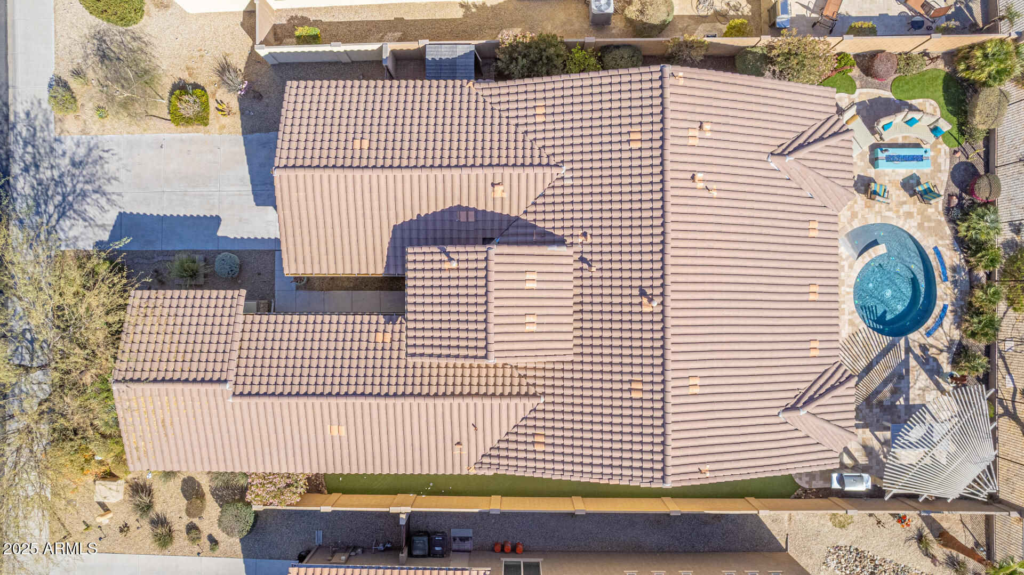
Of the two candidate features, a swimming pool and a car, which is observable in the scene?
swimming pool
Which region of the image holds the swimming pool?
right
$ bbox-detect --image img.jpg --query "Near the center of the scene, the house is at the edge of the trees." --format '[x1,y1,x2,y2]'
[109,60,859,491]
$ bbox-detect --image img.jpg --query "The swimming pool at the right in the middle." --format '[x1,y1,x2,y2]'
[839,213,948,347]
